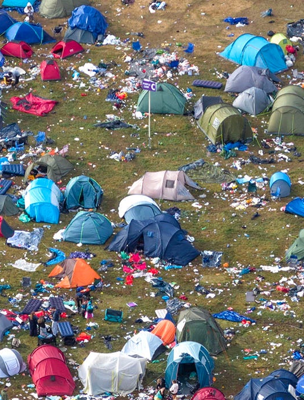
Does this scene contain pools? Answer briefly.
No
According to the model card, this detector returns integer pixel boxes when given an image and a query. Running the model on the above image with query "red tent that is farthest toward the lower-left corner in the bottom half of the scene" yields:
[28,344,75,395]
